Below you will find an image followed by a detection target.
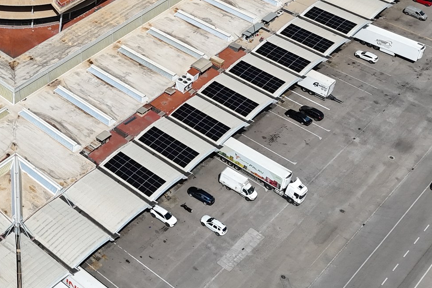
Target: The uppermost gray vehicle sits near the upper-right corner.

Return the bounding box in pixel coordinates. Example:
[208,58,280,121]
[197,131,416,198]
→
[403,5,427,21]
